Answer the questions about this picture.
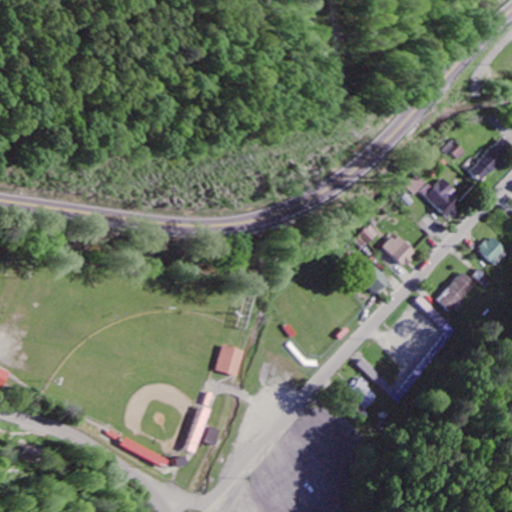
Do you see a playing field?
Yes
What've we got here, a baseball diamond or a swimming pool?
baseball diamond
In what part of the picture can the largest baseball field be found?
bottom left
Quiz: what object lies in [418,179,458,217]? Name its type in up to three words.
house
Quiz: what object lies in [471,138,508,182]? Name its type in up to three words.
house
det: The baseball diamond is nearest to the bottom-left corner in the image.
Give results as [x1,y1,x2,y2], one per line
[44,309,222,455]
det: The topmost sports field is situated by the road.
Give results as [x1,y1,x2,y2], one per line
[276,290,360,357]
